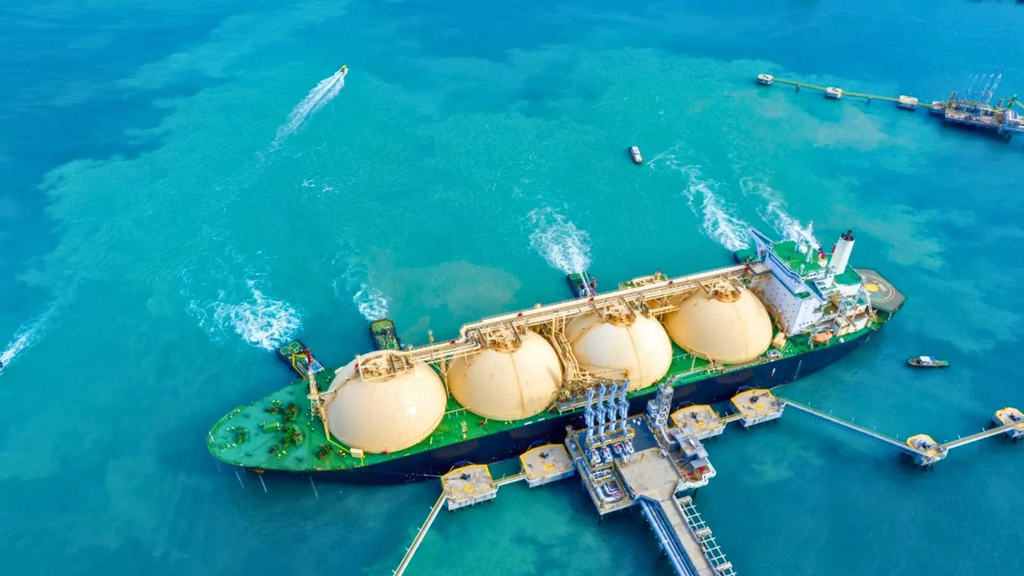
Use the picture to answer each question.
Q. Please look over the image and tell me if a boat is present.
Yes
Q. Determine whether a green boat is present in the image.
Yes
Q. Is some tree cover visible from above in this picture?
No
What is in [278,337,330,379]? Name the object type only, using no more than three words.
boat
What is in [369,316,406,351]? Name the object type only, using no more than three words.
boat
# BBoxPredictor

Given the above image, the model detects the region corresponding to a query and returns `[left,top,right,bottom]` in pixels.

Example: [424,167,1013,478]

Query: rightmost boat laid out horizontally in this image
[908,354,953,368]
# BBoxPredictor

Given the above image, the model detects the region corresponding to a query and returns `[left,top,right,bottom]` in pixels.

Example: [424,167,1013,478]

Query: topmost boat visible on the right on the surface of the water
[628,143,642,162]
